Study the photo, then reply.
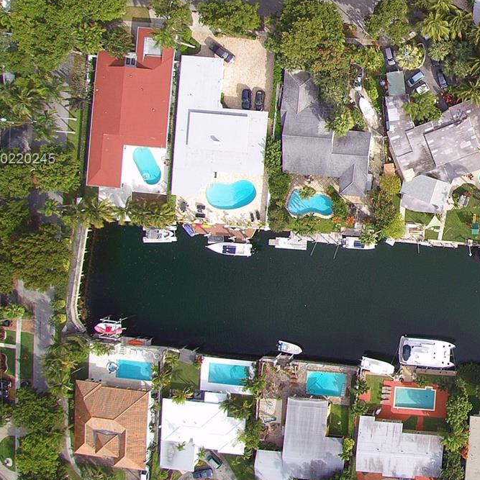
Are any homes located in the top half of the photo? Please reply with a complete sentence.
Yes, the scene does show a home in the top half of the photo.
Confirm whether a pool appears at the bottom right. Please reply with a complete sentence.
Yes, looking at the bottom right, one can make out a pool.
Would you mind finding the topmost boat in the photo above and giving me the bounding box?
[361,88,380,123]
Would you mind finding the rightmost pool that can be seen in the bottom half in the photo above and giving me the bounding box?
[392,386,436,411]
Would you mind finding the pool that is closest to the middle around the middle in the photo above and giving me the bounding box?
[205,179,256,210]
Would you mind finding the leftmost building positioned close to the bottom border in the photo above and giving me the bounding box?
[74,377,157,471]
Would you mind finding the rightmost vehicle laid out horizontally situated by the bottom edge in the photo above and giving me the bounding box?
[191,465,214,478]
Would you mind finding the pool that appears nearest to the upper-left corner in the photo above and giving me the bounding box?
[130,146,162,185]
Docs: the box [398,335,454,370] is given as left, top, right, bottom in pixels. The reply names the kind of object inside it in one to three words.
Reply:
boat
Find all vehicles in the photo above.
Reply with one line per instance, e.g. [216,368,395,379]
[203,449,224,471]
[405,70,427,89]
[253,89,264,110]
[209,40,234,62]
[239,88,252,110]
[138,464,151,480]
[436,72,449,90]
[0,380,12,391]
[384,45,396,69]
[0,319,20,329]
[191,465,214,478]
[413,82,432,96]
